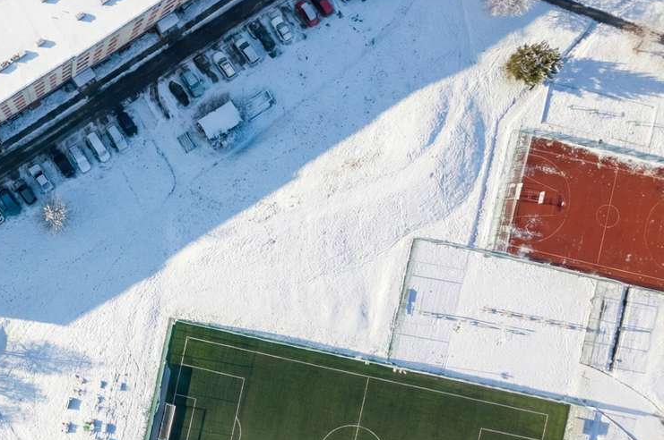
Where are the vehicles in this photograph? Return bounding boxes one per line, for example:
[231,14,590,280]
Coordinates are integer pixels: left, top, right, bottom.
[181,71,204,97]
[104,121,129,151]
[236,37,261,67]
[270,12,293,41]
[116,109,140,138]
[54,150,76,177]
[17,178,38,206]
[0,185,21,215]
[31,165,55,194]
[86,130,111,162]
[294,0,319,28]
[214,53,235,79]
[312,0,333,16]
[69,143,92,174]
[250,19,273,49]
